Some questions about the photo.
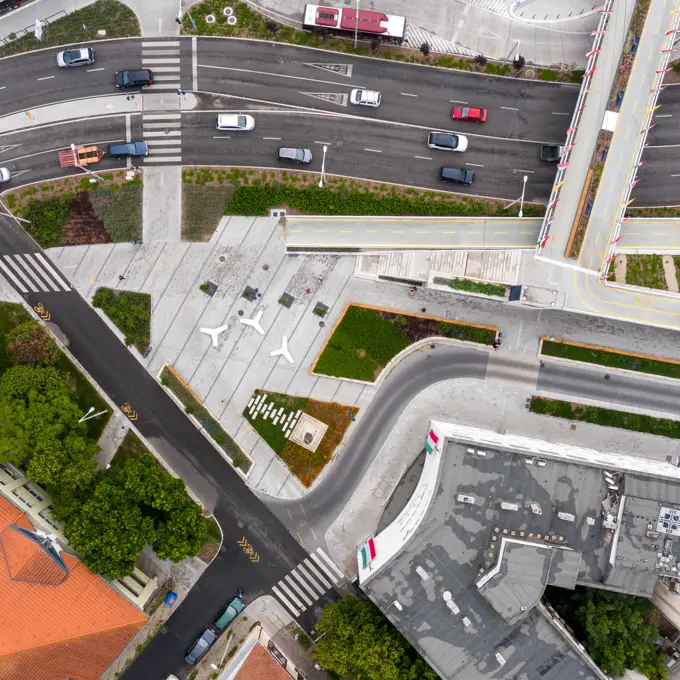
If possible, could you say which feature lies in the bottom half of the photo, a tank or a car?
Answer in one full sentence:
It is a car that can be seen in the bottom half of the photo.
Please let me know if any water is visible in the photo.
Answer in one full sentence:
No, the scene doesn't show any water.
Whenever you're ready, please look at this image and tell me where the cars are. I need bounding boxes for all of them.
[108,139,150,160]
[439,166,474,186]
[216,112,256,133]
[537,143,562,162]
[278,146,313,165]
[0,166,13,183]
[428,131,468,153]
[116,68,155,90]
[350,88,382,108]
[452,104,488,124]
[183,627,219,666]
[58,48,97,70]
[210,594,247,631]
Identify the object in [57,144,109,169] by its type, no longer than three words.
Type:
trailer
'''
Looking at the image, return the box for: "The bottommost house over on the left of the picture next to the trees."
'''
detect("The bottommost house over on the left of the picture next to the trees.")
[212,619,307,680]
